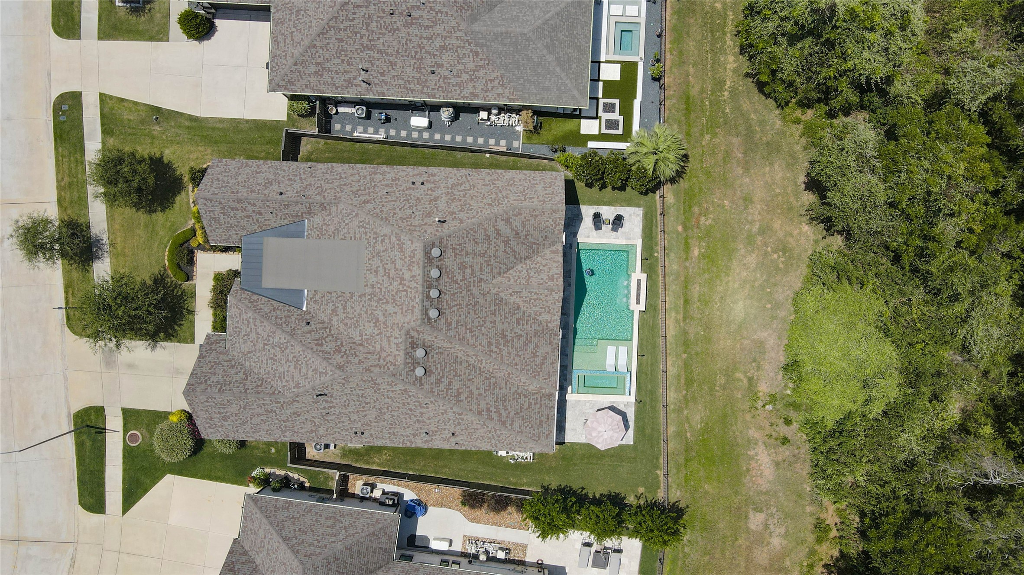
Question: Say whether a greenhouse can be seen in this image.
No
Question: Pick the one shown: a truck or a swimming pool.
swimming pool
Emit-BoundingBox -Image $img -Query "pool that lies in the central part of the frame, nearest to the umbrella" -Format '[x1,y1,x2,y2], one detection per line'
[567,238,648,403]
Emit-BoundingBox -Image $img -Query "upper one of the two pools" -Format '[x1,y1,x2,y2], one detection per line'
[602,0,647,61]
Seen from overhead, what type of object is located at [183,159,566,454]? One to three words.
house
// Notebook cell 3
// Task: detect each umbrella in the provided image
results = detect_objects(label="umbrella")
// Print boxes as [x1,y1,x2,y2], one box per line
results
[582,407,626,448]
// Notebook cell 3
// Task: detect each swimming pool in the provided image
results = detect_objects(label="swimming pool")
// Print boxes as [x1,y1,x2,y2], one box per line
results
[602,0,647,61]
[567,238,648,403]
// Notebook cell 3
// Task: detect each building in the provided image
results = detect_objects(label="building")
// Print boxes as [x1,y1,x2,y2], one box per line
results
[183,159,566,454]
[220,486,570,575]
[178,0,594,114]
